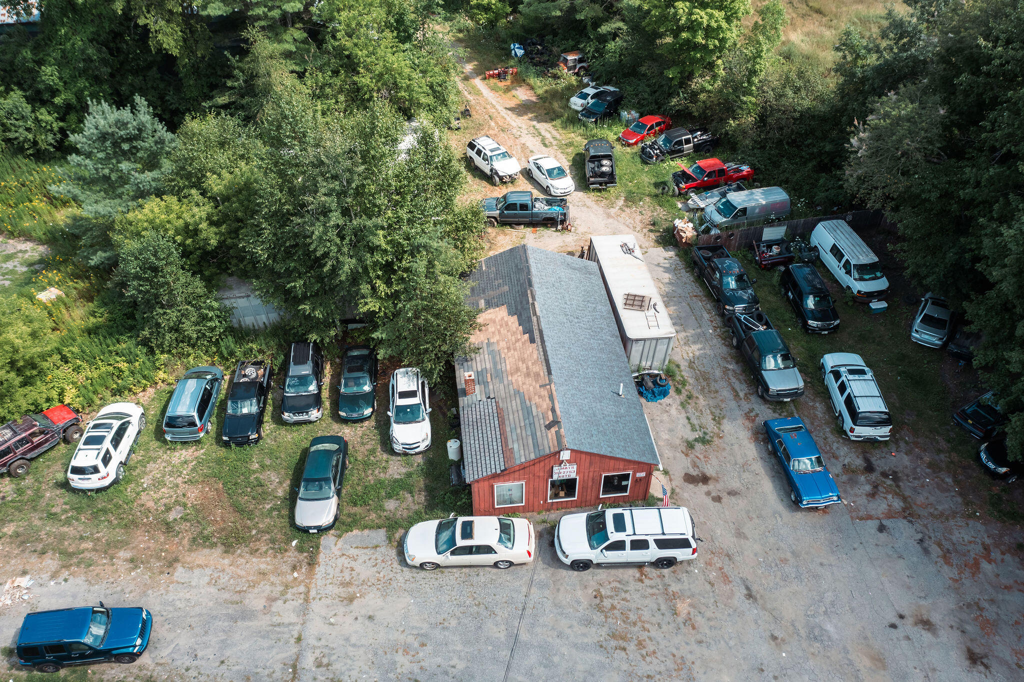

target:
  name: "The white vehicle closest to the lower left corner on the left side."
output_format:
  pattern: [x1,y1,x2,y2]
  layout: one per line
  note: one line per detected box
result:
[69,398,167,492]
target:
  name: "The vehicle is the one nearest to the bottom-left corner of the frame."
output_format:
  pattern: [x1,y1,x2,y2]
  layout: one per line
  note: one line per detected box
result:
[5,603,154,677]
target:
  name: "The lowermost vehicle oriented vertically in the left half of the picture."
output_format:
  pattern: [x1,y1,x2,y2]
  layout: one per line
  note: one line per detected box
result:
[295,435,351,533]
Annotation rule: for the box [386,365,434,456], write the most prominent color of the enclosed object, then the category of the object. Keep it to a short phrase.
white car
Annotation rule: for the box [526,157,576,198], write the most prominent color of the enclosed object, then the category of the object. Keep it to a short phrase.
white car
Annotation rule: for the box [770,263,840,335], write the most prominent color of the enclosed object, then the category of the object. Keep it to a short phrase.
black car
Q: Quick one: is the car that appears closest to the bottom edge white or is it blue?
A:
blue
